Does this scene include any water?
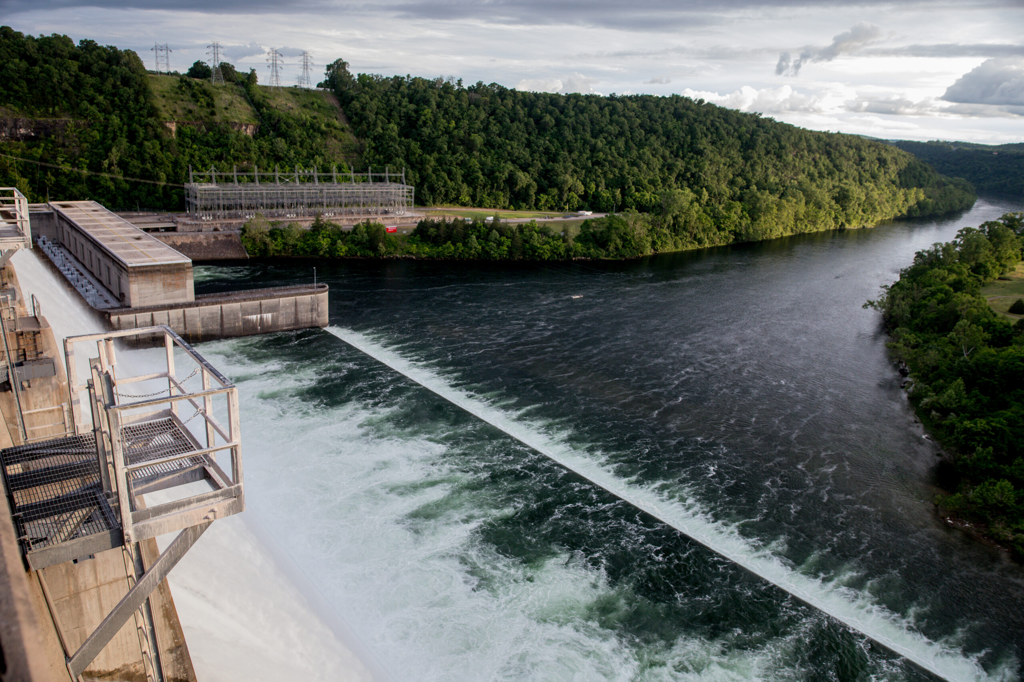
Yes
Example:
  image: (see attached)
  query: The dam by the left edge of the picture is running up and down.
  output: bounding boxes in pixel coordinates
[0,206,194,682]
